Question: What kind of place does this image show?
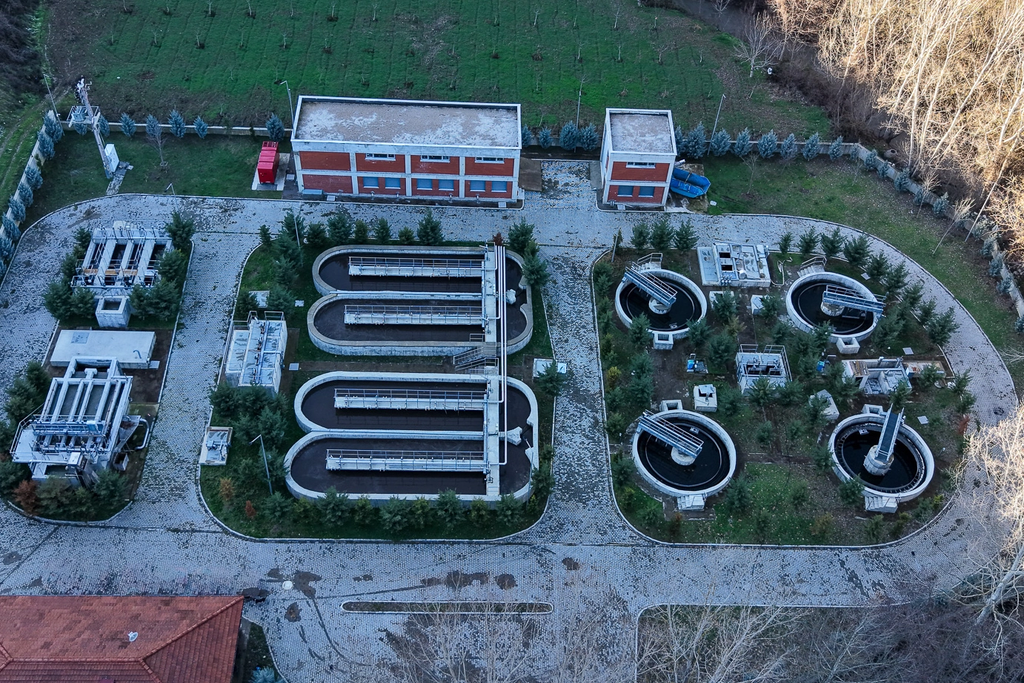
industrial area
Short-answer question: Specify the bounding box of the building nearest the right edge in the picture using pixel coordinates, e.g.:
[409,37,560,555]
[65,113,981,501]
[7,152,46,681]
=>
[602,109,675,205]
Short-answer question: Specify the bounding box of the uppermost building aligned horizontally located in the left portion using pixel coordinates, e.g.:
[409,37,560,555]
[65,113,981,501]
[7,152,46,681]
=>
[290,97,521,200]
